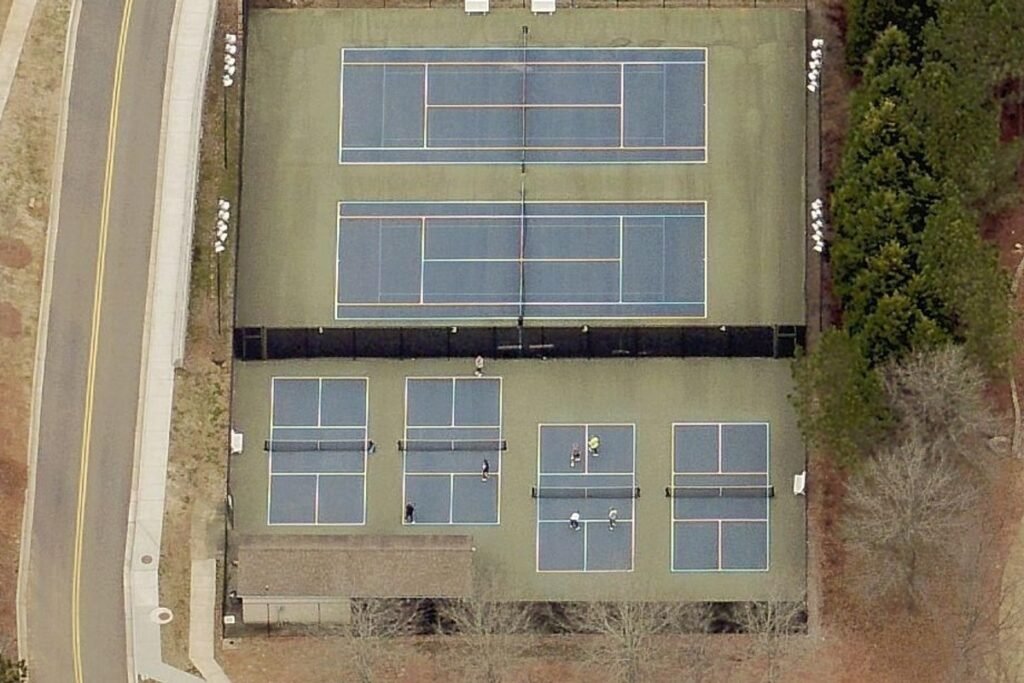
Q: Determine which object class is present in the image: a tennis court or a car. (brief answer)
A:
tennis court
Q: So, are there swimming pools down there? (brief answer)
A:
No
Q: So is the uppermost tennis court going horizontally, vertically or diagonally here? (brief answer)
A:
horizontally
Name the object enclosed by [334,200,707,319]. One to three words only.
tennis court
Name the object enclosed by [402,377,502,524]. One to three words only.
sports court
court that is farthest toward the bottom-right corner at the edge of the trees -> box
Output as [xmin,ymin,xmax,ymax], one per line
[671,423,769,571]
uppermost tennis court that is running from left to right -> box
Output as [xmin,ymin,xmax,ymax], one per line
[338,47,707,164]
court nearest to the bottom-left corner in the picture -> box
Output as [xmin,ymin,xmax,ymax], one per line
[267,377,369,524]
